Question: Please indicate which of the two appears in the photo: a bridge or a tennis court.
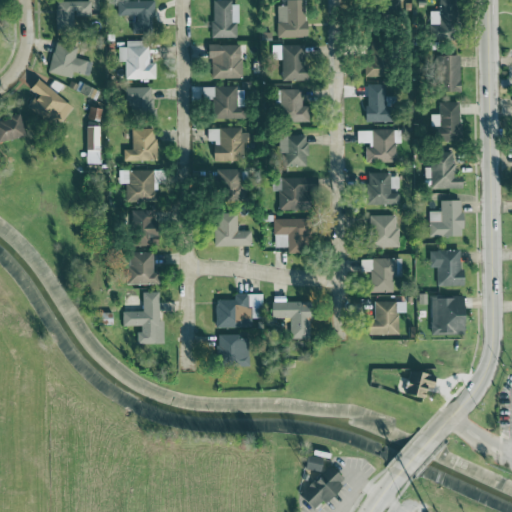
bridge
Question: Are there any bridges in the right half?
Yes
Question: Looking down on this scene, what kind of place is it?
residential area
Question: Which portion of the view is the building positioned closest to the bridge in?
bottom right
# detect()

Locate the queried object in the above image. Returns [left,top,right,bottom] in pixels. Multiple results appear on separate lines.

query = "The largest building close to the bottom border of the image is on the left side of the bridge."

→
[303,464,348,510]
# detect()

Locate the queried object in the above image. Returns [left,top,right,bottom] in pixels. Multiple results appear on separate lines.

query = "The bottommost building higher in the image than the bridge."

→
[408,370,440,400]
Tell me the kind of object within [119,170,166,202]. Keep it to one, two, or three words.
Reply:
house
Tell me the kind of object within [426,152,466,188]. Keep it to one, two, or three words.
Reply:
house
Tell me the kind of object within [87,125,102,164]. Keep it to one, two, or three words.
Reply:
shed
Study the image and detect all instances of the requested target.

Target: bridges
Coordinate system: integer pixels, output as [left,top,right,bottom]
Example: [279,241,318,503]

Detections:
[386,412,455,482]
